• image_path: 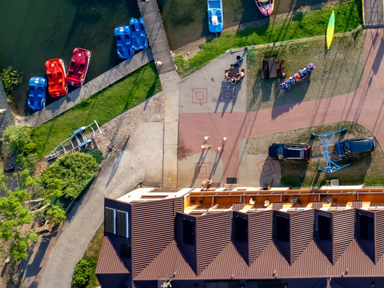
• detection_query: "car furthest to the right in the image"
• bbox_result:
[334,134,377,161]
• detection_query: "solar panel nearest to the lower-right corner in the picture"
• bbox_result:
[358,211,372,243]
